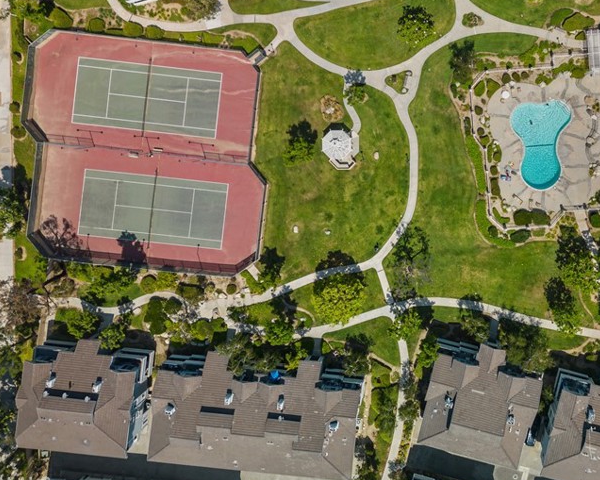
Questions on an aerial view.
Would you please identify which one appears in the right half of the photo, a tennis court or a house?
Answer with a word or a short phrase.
house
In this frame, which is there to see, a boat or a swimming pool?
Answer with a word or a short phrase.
swimming pool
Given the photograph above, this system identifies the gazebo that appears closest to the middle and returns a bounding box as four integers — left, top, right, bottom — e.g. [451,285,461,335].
[322,129,359,170]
